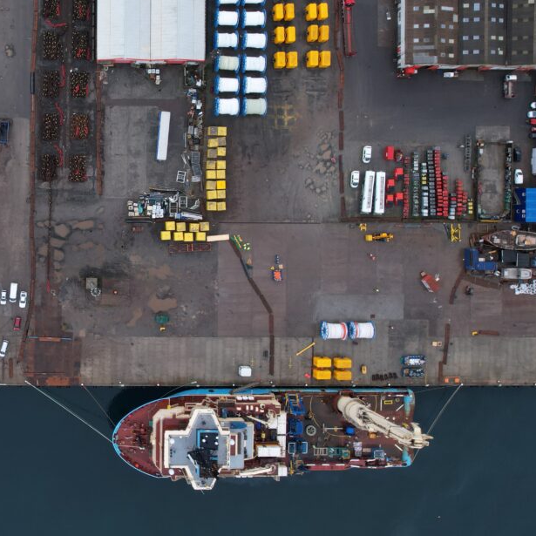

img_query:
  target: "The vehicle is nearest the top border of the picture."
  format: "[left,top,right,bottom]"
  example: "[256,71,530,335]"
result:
[342,0,354,56]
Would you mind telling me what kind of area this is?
port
